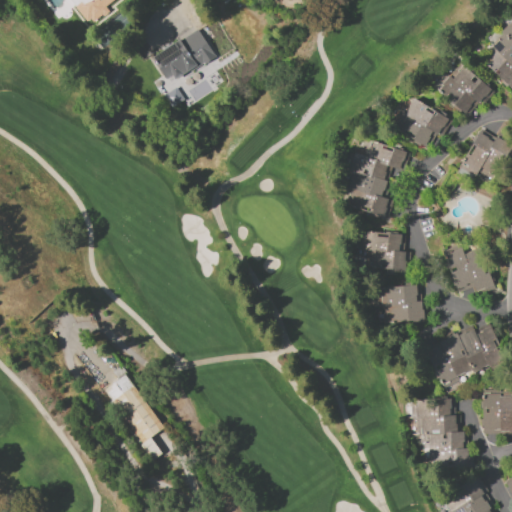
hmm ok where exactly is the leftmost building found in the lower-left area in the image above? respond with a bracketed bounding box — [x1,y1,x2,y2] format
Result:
[106,376,164,458]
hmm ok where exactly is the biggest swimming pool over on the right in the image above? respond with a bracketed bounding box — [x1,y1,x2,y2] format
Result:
[441,190,491,234]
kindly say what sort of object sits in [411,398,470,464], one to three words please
building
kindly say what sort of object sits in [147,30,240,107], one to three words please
house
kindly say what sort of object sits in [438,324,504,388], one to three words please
building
